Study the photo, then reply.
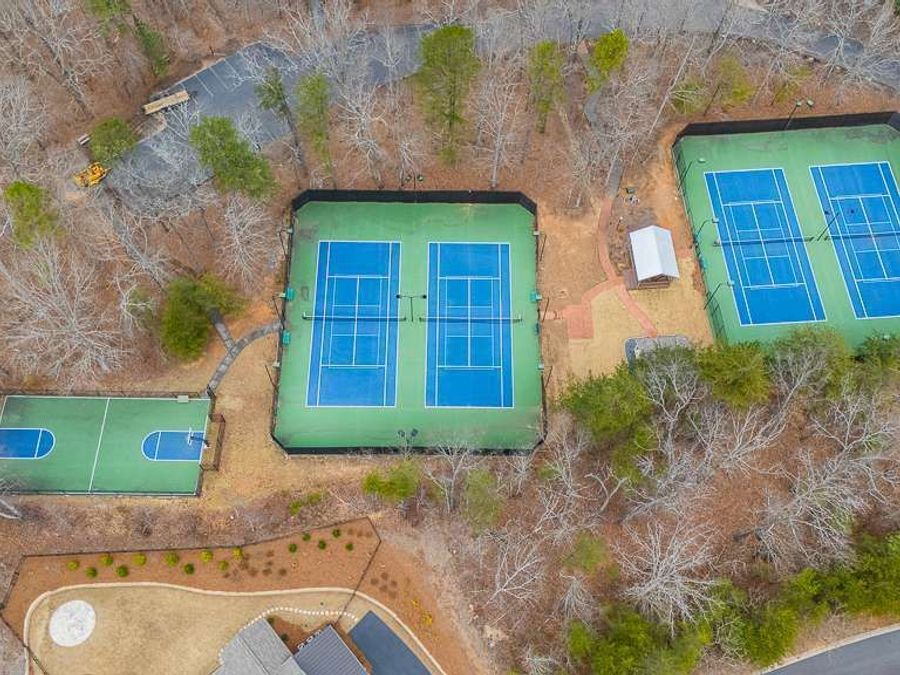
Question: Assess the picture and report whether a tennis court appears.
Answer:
Yes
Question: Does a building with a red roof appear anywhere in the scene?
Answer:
No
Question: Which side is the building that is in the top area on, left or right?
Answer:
right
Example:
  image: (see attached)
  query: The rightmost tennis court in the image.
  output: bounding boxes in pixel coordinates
[786,125,900,352]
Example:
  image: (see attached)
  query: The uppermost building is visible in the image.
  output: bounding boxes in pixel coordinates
[625,228,680,292]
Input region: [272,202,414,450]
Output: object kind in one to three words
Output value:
tennis court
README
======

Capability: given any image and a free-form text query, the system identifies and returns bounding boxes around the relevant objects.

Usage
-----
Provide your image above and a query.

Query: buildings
[221,617,369,675]
[625,228,680,292]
